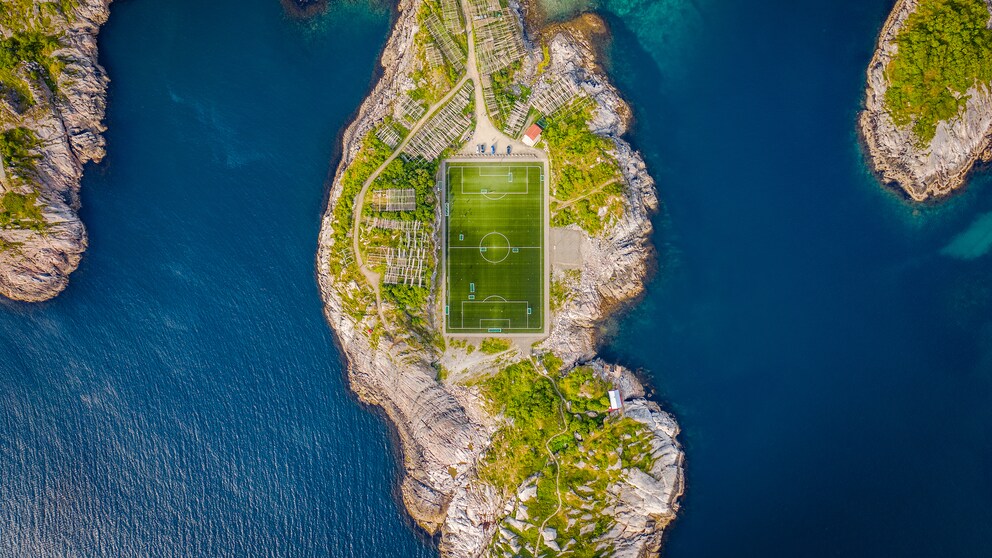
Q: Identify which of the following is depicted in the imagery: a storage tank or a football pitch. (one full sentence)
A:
Of the two, only a football pitch appears.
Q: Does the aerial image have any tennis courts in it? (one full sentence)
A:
No, there is no tennis court in the image.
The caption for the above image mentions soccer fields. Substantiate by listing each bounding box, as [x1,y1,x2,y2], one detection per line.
[442,159,549,337]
